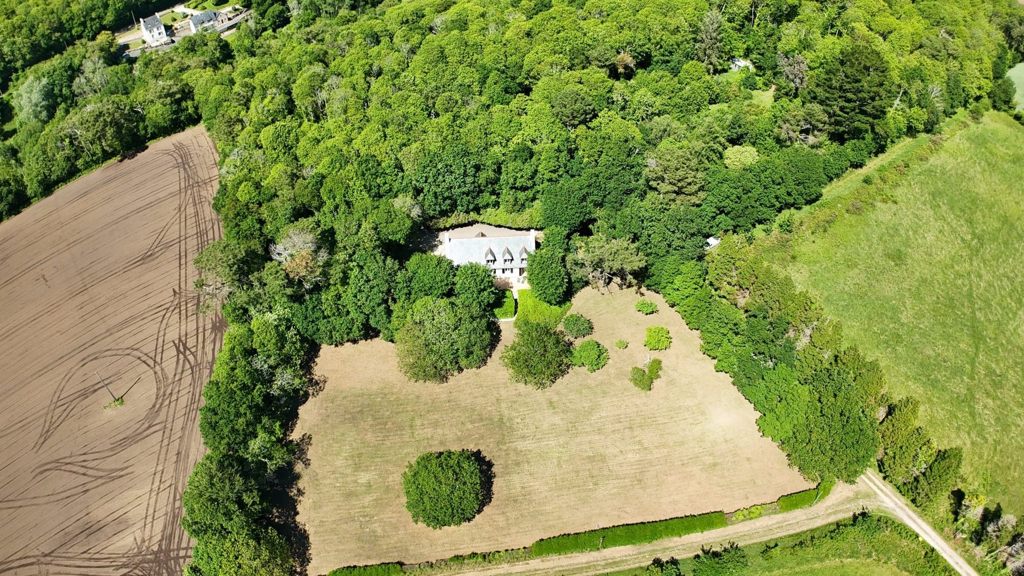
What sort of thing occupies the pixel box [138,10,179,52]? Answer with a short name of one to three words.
house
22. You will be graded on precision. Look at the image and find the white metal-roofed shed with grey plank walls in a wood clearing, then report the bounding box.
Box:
[727,59,751,79]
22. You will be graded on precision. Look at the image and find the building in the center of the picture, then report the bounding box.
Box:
[445,227,536,278]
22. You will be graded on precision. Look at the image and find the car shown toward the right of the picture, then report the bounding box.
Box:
[705,236,724,250]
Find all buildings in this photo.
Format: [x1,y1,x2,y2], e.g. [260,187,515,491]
[191,8,240,37]
[445,227,536,278]
[138,10,179,52]
[727,59,751,79]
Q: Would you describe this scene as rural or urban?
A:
rural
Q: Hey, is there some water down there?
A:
No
